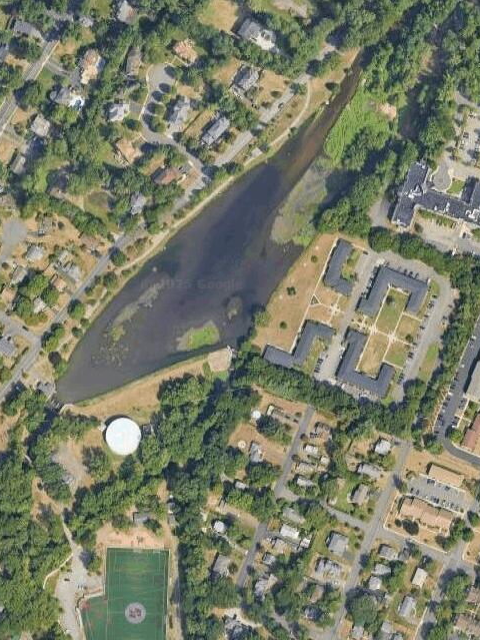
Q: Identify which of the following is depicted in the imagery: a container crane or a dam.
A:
dam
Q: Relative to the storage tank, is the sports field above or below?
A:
below it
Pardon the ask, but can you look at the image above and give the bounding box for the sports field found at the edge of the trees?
[81,548,169,640]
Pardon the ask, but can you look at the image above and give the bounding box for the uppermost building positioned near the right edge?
[390,163,480,227]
